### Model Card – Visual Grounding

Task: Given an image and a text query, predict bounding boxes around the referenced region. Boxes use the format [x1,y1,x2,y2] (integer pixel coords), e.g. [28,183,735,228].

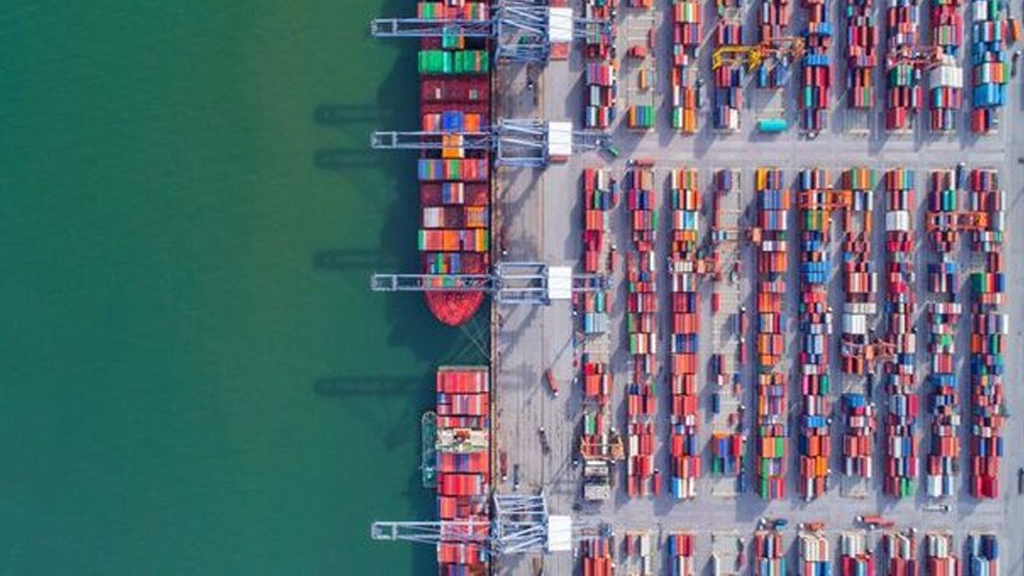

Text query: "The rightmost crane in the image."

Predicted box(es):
[925,213,990,235]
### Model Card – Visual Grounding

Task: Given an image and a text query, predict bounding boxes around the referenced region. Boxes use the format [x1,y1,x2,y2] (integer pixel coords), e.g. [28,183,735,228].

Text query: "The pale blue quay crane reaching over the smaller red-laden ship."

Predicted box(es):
[372,485,611,551]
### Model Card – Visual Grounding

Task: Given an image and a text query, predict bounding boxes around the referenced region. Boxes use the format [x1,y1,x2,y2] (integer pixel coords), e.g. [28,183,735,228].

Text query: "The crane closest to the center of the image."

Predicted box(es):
[372,262,611,304]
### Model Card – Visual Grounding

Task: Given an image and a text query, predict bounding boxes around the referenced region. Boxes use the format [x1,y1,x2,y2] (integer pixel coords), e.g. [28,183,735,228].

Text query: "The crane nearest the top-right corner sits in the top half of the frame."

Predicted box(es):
[882,46,945,77]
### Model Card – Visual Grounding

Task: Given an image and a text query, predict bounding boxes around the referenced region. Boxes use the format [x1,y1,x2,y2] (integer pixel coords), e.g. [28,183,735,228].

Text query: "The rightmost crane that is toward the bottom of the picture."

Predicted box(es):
[839,336,899,359]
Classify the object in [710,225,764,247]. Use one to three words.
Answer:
crane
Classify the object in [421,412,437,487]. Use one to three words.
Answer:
vessel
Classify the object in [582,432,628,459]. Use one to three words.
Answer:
crane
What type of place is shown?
port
